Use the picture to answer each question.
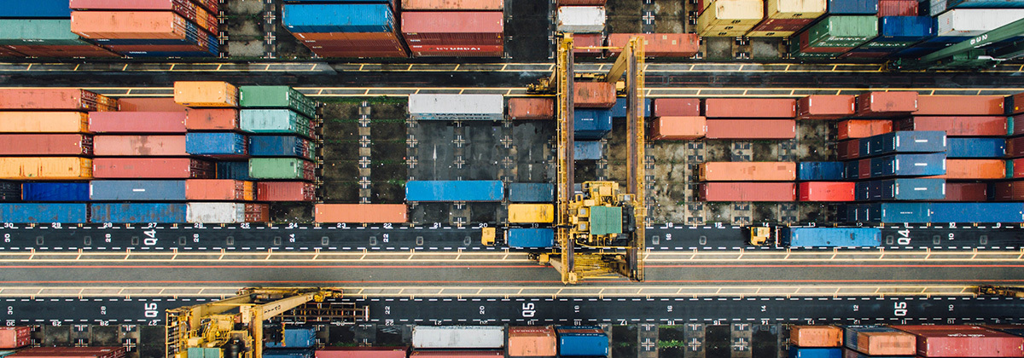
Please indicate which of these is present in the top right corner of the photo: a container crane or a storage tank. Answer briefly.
container crane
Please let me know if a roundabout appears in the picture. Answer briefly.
No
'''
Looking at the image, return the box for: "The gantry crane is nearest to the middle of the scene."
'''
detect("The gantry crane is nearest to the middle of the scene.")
[528,32,649,286]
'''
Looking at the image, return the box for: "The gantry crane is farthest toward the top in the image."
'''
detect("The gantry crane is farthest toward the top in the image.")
[887,9,1024,71]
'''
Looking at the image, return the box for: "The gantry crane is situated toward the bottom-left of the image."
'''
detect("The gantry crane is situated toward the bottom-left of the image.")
[163,284,338,358]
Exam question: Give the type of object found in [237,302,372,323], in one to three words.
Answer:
truck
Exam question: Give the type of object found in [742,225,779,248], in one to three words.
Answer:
truck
